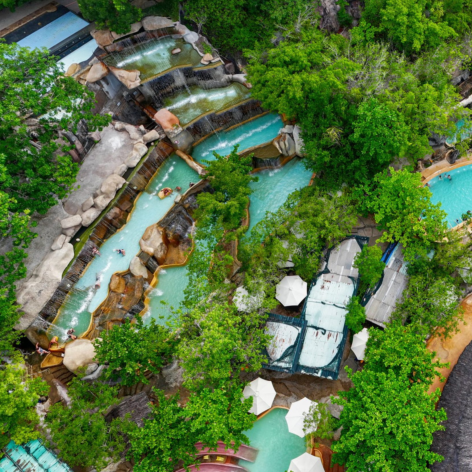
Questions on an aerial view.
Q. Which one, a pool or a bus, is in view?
pool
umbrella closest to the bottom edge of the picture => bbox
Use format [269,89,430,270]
[287,449,326,472]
